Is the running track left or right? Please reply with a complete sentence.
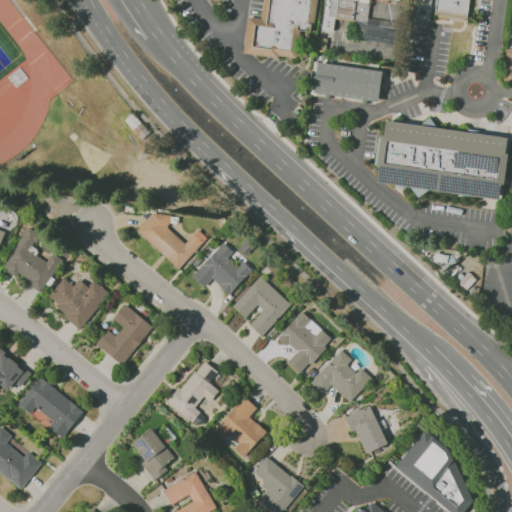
It is on the left.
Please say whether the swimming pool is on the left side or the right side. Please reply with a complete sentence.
The swimming pool appears in the right half of the scene.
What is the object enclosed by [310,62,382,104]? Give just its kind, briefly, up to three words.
building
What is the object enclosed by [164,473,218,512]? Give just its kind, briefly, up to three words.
house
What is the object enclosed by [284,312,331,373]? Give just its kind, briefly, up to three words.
house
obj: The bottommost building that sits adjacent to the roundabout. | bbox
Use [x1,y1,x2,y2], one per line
[374,118,508,197]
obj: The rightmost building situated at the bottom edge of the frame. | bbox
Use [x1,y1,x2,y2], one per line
[398,432,474,512]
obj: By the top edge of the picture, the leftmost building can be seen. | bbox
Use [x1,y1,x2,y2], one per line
[244,0,317,57]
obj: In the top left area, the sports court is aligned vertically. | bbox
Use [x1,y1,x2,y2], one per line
[0,22,26,80]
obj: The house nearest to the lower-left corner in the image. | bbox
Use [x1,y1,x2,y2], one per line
[0,428,41,490]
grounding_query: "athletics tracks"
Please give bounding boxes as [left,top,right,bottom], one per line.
[0,0,73,164]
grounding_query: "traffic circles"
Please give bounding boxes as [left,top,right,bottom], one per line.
[448,0,512,118]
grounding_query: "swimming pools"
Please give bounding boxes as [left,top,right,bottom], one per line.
[350,347,370,368]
